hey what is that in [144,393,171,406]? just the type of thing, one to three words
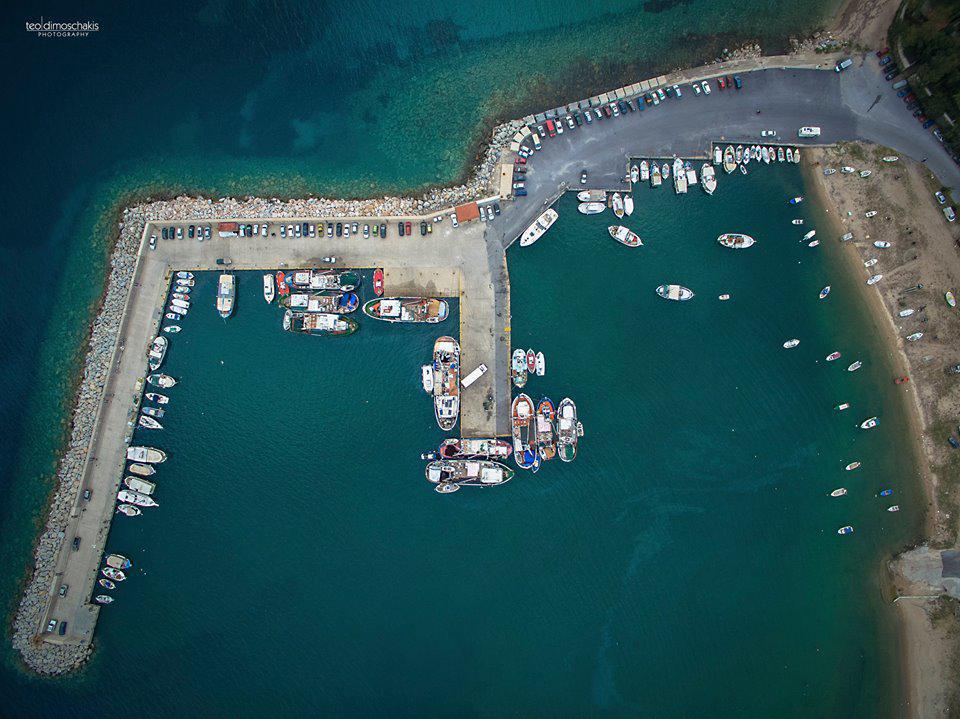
boat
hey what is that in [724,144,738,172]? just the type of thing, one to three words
boat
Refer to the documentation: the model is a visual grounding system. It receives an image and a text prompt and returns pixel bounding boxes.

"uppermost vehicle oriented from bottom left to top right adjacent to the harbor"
[832,57,853,73]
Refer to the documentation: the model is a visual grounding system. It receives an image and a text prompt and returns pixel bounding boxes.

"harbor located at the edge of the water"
[42,67,846,642]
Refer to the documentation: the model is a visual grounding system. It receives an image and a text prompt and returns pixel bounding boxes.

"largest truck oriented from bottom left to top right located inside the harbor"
[461,364,488,387]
